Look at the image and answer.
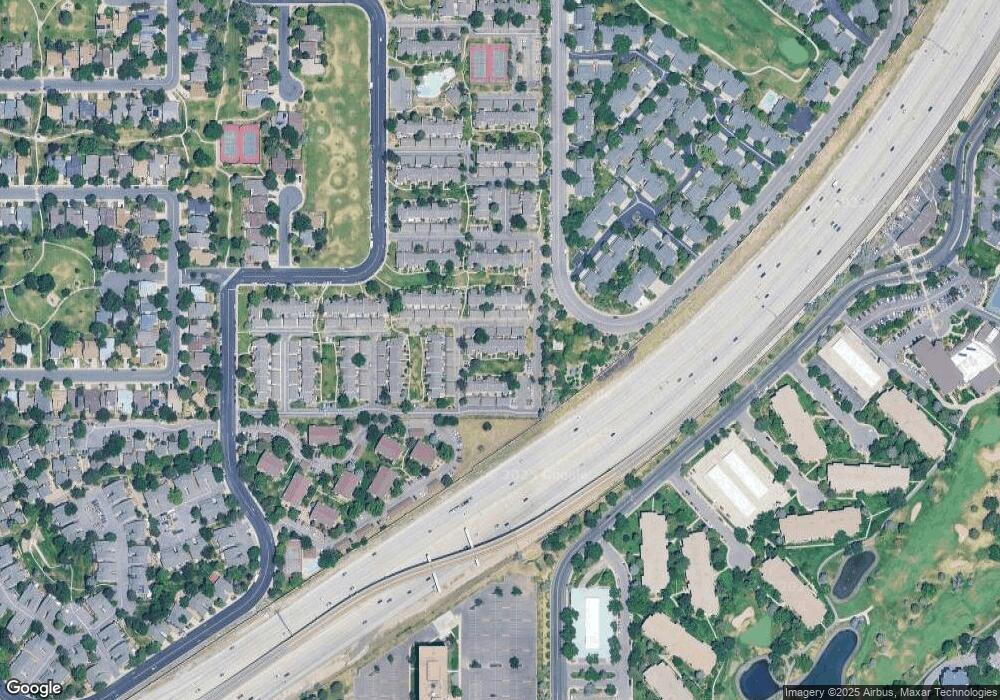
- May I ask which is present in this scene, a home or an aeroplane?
home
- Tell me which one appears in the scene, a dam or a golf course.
golf course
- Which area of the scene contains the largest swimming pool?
top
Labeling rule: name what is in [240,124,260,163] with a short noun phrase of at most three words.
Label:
tennis court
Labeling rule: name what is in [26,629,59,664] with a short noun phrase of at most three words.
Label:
house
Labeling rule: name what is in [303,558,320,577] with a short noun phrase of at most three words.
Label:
swimming pool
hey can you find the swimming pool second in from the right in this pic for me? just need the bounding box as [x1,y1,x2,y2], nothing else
[415,67,456,100]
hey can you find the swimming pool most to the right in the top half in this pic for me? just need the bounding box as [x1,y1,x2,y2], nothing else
[758,90,779,111]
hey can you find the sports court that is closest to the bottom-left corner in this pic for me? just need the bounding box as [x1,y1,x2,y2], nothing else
[285,541,302,578]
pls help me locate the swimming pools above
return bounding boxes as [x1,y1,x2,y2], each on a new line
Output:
[415,67,456,100]
[303,558,320,577]
[758,90,779,111]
